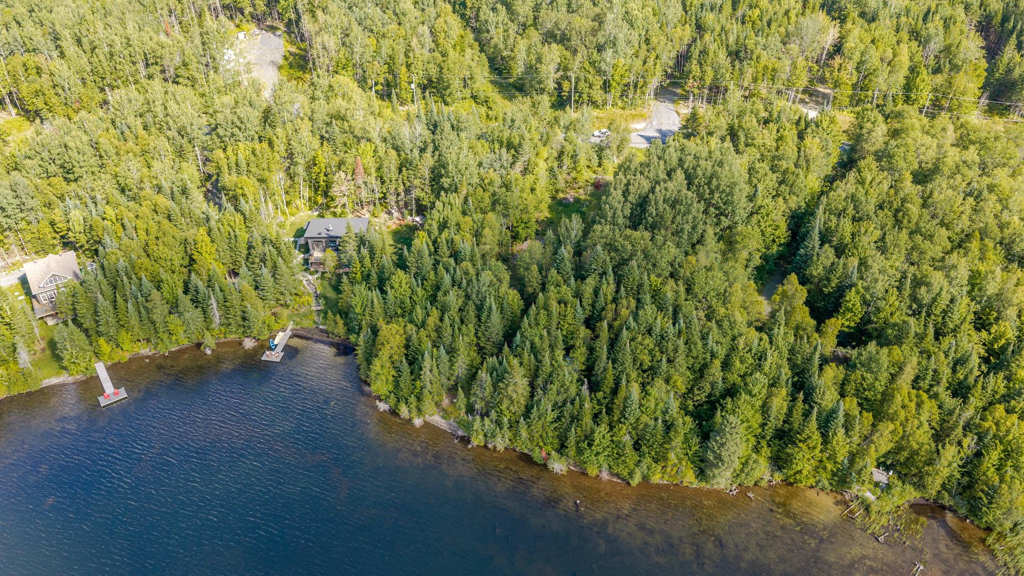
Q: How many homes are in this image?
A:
2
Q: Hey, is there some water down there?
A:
Yes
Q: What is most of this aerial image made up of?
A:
trees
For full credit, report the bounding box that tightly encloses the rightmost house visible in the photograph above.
[298,217,370,274]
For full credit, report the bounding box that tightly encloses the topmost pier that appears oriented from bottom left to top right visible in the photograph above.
[260,322,293,363]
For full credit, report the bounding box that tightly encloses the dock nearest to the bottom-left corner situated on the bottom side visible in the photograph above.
[96,362,129,409]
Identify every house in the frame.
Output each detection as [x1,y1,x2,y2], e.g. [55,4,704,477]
[298,217,370,274]
[22,249,101,328]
